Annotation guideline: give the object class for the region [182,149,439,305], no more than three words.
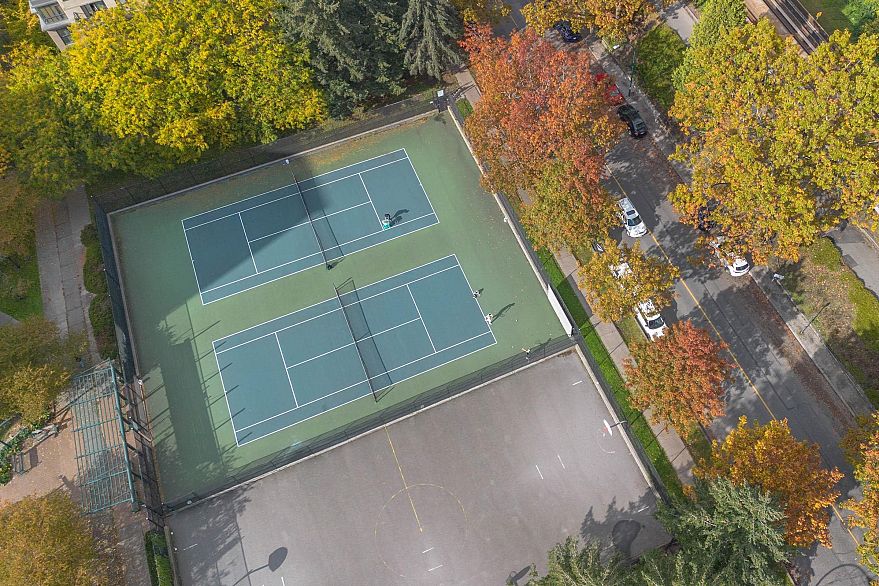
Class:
tennis court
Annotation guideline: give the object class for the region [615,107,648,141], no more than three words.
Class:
car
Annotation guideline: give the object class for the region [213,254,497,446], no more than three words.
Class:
tennis court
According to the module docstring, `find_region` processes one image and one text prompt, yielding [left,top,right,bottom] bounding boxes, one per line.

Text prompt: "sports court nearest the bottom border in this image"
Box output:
[170,351,670,586]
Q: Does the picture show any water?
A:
No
